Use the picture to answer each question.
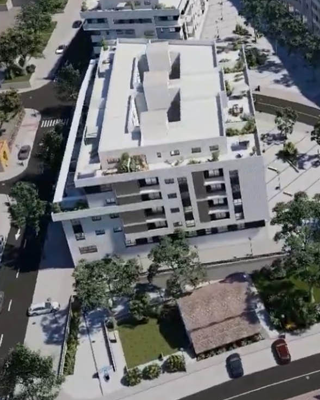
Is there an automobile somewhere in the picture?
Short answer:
Yes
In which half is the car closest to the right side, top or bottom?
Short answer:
bottom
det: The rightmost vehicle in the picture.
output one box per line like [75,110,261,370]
[271,337,294,363]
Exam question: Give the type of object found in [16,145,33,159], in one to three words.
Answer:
car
